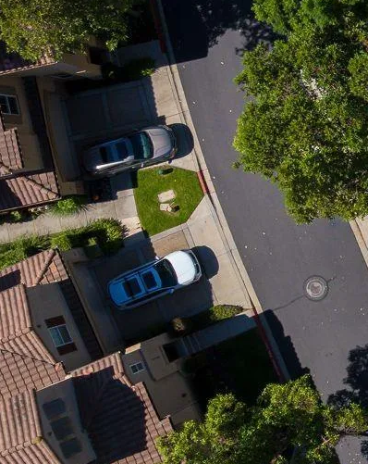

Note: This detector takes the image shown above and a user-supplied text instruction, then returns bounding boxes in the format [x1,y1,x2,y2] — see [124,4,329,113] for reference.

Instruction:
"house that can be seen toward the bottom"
[0,249,218,464]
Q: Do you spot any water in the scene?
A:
No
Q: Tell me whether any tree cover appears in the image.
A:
Yes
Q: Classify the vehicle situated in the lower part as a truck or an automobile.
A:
automobile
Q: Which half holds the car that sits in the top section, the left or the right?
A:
left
